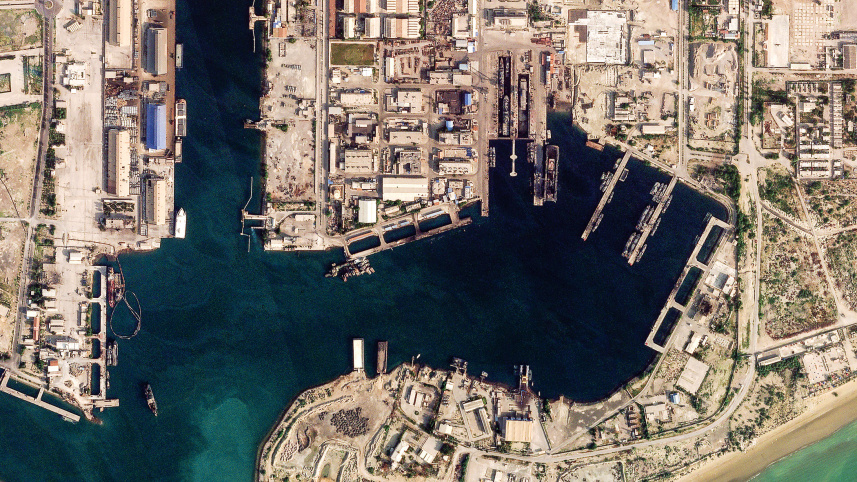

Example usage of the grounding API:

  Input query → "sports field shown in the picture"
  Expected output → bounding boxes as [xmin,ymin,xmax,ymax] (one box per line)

[330,42,374,66]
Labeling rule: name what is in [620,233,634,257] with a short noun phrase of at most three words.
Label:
ship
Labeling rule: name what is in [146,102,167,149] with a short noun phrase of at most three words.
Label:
building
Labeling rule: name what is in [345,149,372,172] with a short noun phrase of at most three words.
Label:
building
